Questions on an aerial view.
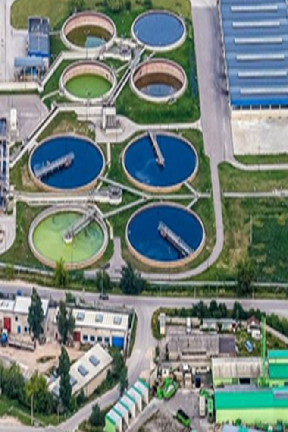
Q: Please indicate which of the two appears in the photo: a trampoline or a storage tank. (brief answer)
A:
storage tank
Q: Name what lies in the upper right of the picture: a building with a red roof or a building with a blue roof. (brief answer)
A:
building with a blue roof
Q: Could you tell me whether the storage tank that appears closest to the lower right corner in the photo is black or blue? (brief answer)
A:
blue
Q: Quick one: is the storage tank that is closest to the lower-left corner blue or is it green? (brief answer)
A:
green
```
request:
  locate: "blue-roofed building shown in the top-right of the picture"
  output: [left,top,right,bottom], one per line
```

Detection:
[216,0,288,116]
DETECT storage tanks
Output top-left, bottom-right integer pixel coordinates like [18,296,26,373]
[27,201,108,269]
[60,10,116,52]
[28,131,105,192]
[125,199,206,266]
[58,57,118,103]
[131,8,187,51]
[122,129,198,190]
[129,57,188,102]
